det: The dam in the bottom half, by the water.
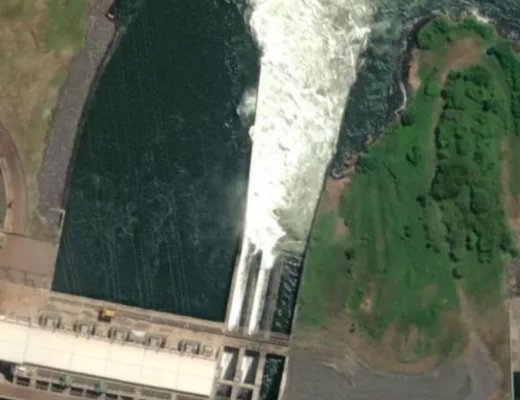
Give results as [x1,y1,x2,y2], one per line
[0,253,292,400]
